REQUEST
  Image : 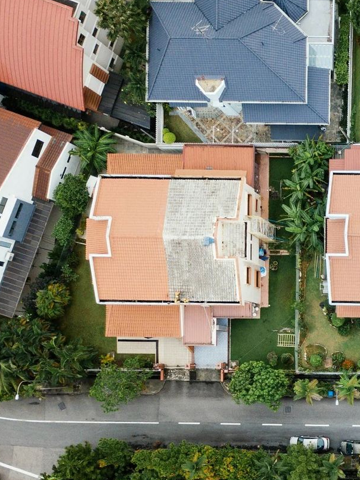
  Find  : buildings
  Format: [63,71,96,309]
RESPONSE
[86,145,275,345]
[145,0,342,144]
[0,109,97,318]
[325,145,360,318]
[0,0,157,132]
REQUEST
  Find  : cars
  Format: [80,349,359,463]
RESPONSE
[291,434,331,451]
[341,437,360,457]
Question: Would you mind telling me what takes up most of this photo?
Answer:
buildings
